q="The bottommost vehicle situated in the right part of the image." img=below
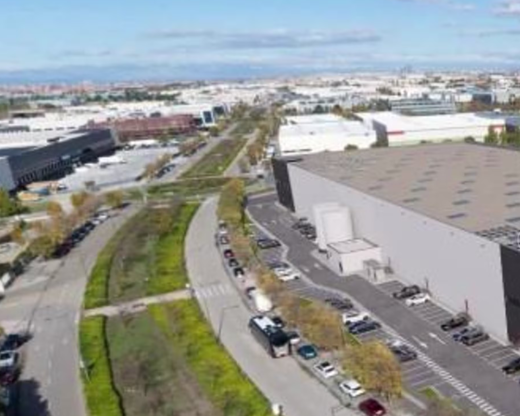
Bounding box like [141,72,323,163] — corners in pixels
[356,398,387,416]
